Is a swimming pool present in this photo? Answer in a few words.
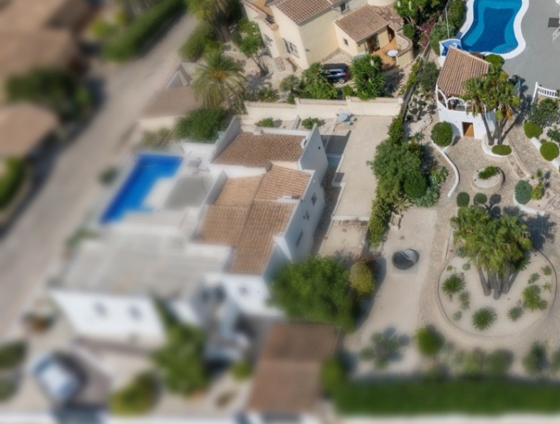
Yes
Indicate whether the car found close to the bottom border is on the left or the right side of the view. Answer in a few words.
left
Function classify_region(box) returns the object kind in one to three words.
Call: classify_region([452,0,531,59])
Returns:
swimming pool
